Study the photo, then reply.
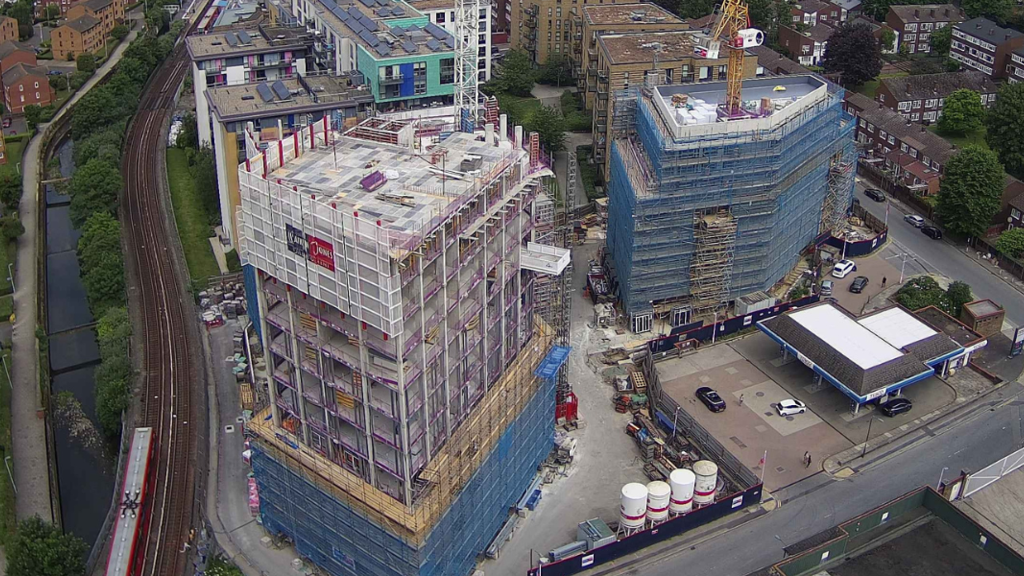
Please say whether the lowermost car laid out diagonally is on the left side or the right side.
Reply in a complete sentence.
The lowermost car laid out diagonally sits on the right side.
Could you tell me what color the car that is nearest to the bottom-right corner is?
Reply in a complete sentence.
In this view, the car that is nearest to the bottom-right corner is black.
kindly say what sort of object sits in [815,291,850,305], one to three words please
car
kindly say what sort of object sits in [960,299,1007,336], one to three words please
building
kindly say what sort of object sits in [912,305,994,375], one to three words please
building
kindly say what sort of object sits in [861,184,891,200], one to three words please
car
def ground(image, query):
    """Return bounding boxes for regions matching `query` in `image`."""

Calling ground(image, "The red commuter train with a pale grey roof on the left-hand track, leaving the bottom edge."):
[106,427,163,576]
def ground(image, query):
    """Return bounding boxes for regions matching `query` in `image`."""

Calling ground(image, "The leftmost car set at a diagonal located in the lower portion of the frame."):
[690,383,732,414]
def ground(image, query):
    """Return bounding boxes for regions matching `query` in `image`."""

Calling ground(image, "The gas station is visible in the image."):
[756,301,967,425]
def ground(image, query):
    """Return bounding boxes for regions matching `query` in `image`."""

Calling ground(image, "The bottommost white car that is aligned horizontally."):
[773,399,809,416]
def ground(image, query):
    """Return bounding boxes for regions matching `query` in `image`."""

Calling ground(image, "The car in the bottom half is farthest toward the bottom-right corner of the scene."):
[878,396,920,418]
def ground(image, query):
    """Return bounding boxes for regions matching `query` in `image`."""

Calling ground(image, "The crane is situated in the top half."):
[690,0,777,116]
